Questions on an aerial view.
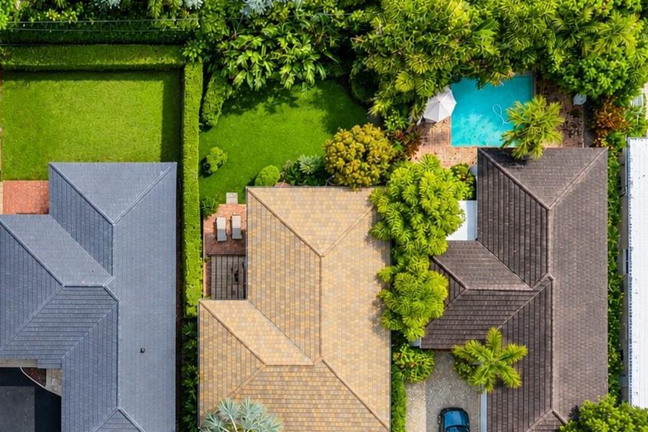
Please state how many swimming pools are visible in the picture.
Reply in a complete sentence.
The count comes to 1 swimming pool.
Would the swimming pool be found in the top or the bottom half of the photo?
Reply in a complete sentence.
The swimming pool sits in the top half of the picture.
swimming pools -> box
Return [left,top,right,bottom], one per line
[450,72,535,148]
